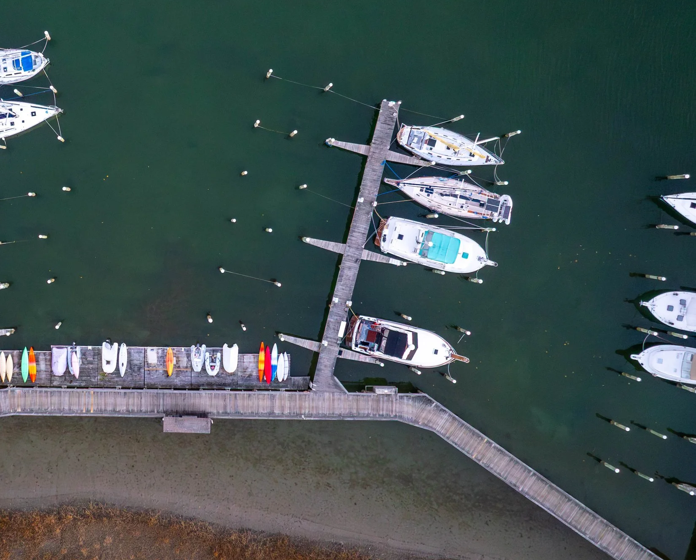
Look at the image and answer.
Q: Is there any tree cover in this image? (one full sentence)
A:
No, there's no tree cover in this view.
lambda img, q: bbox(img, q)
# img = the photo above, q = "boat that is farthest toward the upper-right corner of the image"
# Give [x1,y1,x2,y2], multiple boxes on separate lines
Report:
[657,191,696,228]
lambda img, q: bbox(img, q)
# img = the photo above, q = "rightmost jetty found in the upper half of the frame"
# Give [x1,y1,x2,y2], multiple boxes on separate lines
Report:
[387,150,429,166]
